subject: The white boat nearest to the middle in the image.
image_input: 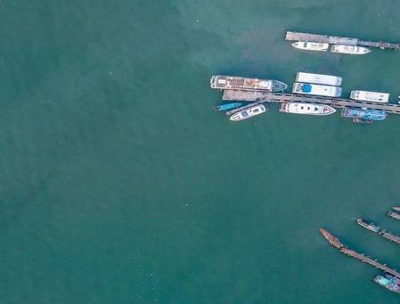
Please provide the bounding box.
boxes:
[230,104,267,120]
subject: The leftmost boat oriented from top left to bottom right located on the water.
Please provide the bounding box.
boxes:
[321,229,343,248]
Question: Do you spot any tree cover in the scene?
No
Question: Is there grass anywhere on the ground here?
No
